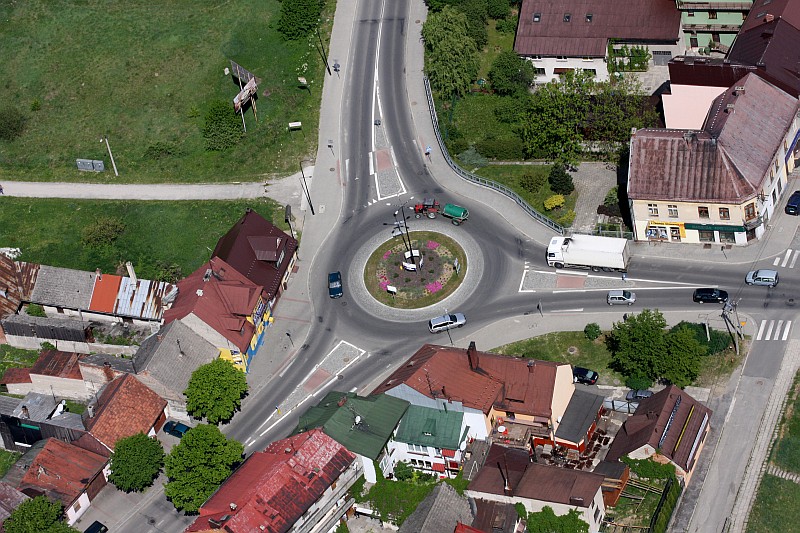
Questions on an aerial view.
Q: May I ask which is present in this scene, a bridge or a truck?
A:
truck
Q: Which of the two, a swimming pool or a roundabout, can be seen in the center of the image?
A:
roundabout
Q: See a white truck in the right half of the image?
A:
Yes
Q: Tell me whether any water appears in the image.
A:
No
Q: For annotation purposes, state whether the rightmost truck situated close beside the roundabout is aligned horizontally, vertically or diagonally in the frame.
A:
horizontally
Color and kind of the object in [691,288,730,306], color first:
black car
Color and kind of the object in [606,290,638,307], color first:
gray car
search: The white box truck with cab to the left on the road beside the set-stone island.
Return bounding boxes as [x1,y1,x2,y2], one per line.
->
[545,231,631,271]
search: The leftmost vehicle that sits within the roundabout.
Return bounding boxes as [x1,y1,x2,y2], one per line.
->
[327,271,344,302]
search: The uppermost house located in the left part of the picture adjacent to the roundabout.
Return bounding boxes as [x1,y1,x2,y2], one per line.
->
[203,202,302,307]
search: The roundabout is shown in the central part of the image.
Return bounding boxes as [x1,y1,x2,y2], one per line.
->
[310,184,535,361]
